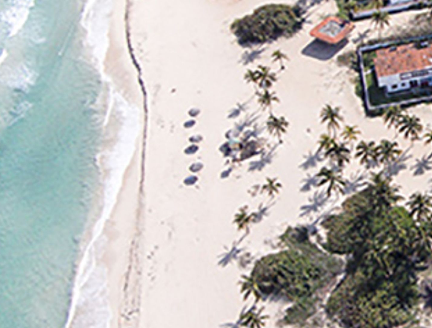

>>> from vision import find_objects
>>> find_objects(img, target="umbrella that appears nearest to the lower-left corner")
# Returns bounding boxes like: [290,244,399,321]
[188,161,205,174]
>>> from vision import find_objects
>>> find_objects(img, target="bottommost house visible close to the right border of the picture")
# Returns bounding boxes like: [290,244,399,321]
[373,43,432,100]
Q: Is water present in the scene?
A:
Yes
